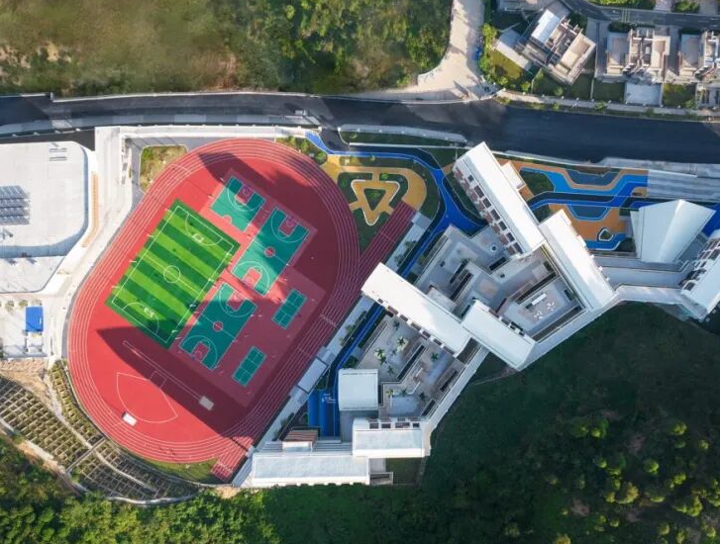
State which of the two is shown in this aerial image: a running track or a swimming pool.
running track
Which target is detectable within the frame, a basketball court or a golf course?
basketball court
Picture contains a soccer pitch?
Yes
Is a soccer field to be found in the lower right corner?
No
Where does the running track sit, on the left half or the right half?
left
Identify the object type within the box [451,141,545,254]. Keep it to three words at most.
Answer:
building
